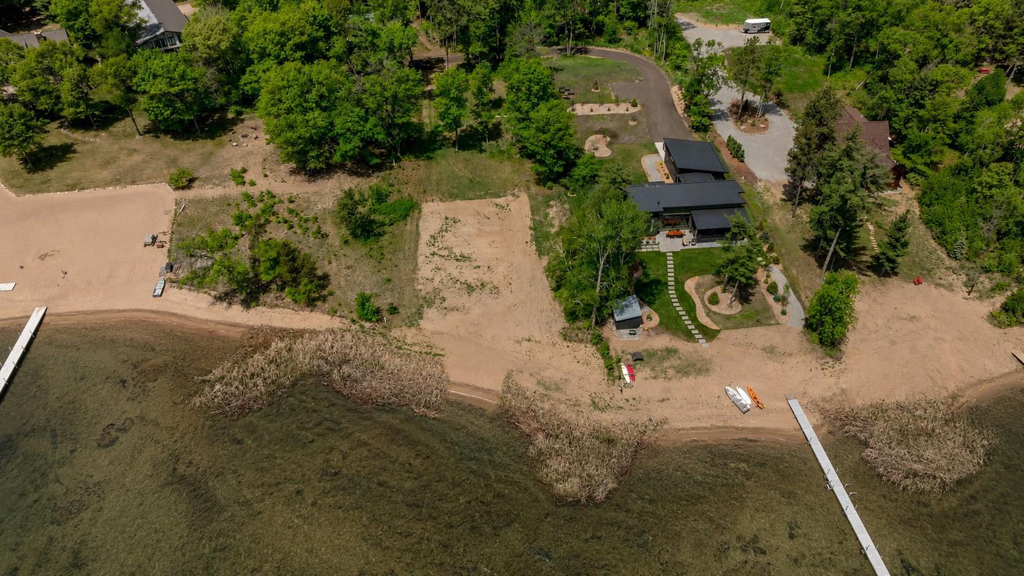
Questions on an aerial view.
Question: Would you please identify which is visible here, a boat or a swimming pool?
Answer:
boat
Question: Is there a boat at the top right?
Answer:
No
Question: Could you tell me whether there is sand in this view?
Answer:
Yes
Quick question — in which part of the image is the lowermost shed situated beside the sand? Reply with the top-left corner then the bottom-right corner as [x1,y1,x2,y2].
[611,294,646,331]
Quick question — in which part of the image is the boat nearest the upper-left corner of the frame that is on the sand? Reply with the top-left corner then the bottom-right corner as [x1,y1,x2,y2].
[151,274,164,296]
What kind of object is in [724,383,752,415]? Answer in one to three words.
boat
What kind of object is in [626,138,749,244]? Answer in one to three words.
house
